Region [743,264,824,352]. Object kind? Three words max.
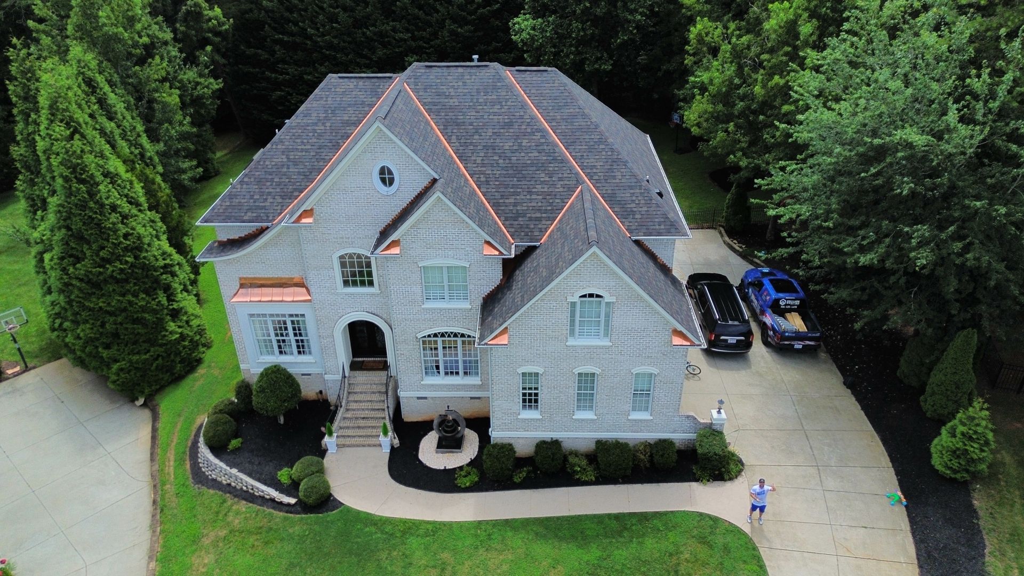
truck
